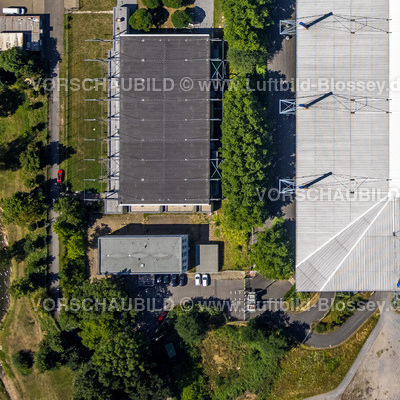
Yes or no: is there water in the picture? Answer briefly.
No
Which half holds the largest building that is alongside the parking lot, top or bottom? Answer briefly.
top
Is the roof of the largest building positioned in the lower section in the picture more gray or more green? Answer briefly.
gray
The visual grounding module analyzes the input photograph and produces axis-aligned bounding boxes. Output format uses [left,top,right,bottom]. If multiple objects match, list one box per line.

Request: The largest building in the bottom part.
[98,235,190,274]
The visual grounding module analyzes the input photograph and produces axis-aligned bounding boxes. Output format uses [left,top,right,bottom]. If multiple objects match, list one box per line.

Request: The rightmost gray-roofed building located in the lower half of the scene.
[195,243,221,272]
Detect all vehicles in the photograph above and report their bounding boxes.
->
[0,8,24,15]
[180,274,186,286]
[202,274,208,286]
[195,273,201,285]
[56,170,63,183]
[172,274,178,286]
[164,274,170,286]
[156,274,162,286]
